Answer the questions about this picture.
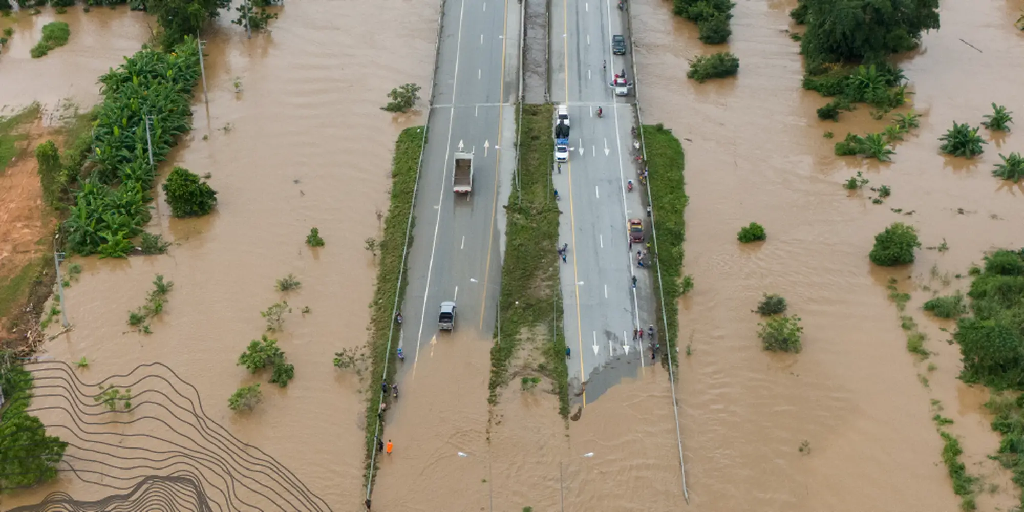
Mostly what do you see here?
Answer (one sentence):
Most of the picture is covered by water.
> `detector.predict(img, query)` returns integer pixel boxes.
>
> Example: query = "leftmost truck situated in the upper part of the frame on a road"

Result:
[451,152,476,193]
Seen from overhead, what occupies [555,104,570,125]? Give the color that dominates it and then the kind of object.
white vehicle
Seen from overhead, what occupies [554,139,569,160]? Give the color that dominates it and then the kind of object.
white vehicle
